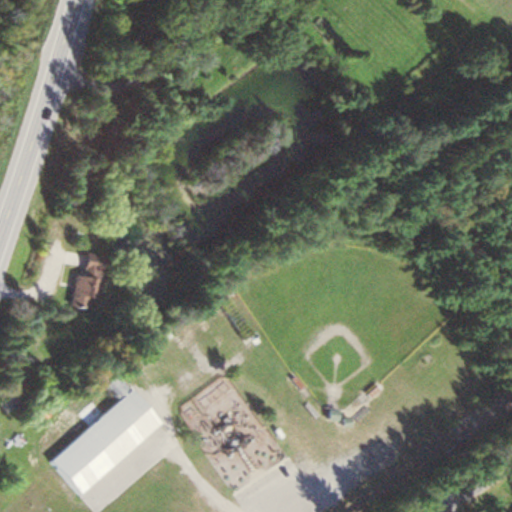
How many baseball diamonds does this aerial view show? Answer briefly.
1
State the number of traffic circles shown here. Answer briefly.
zero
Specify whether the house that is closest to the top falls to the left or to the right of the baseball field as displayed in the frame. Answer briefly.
left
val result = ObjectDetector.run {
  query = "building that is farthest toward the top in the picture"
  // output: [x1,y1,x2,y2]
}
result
[72,252,108,310]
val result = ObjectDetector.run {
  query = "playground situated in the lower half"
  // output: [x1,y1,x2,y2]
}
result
[180,376,288,489]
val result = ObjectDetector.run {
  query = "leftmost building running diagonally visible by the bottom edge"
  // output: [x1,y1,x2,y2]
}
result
[54,391,162,495]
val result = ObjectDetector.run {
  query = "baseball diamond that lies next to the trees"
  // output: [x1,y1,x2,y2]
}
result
[234,244,446,408]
